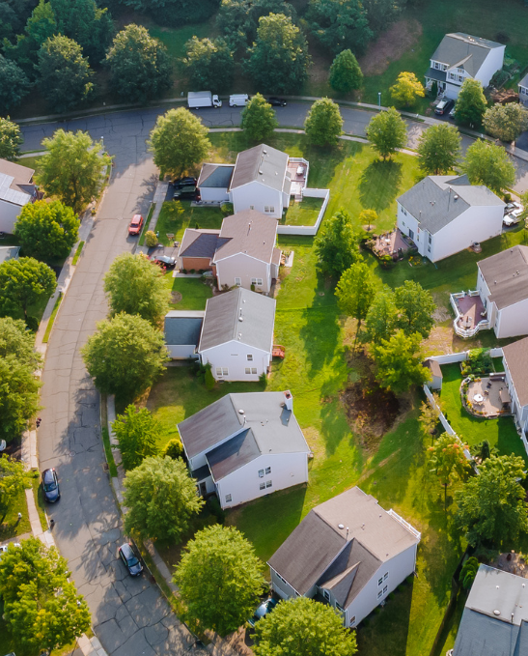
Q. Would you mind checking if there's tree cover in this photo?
Yes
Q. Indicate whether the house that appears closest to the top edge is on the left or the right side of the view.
right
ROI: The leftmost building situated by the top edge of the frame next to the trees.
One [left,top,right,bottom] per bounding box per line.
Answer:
[423,23,504,93]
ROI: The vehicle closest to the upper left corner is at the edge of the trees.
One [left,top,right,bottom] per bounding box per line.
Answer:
[182,88,219,109]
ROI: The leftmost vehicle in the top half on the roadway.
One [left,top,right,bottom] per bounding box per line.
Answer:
[126,211,143,233]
